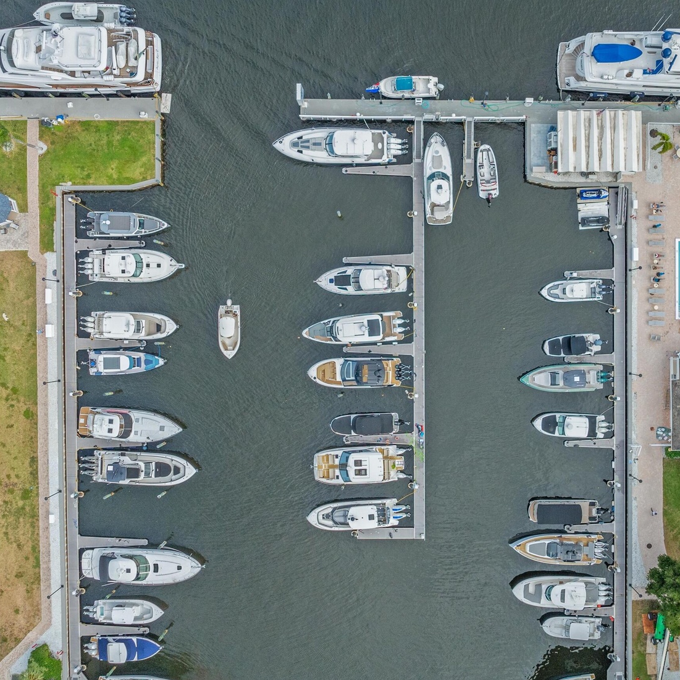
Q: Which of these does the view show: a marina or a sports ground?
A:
marina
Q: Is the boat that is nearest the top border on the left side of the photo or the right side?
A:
left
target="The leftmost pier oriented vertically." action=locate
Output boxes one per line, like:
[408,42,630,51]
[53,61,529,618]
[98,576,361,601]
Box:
[65,195,151,680]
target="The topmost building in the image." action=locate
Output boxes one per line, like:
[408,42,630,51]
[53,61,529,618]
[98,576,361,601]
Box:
[557,109,651,175]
